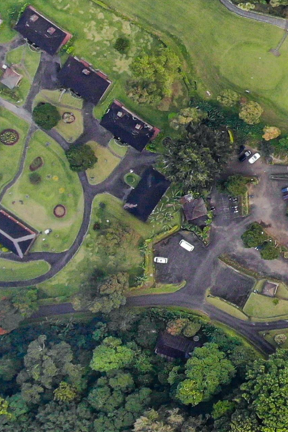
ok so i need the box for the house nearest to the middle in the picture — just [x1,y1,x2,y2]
[124,167,173,222]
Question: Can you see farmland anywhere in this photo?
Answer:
No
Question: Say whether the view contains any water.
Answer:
No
